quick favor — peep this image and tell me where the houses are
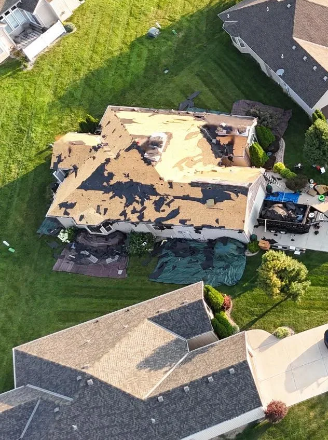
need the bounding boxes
[47,107,269,243]
[0,280,265,440]
[0,0,84,66]
[223,0,328,119]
